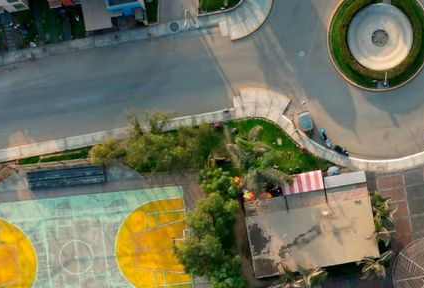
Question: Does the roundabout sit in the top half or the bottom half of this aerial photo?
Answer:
top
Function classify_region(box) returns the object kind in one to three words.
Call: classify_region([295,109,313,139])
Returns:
car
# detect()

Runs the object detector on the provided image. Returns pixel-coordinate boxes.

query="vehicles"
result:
[335,145,350,155]
[319,128,331,147]
[295,109,313,139]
